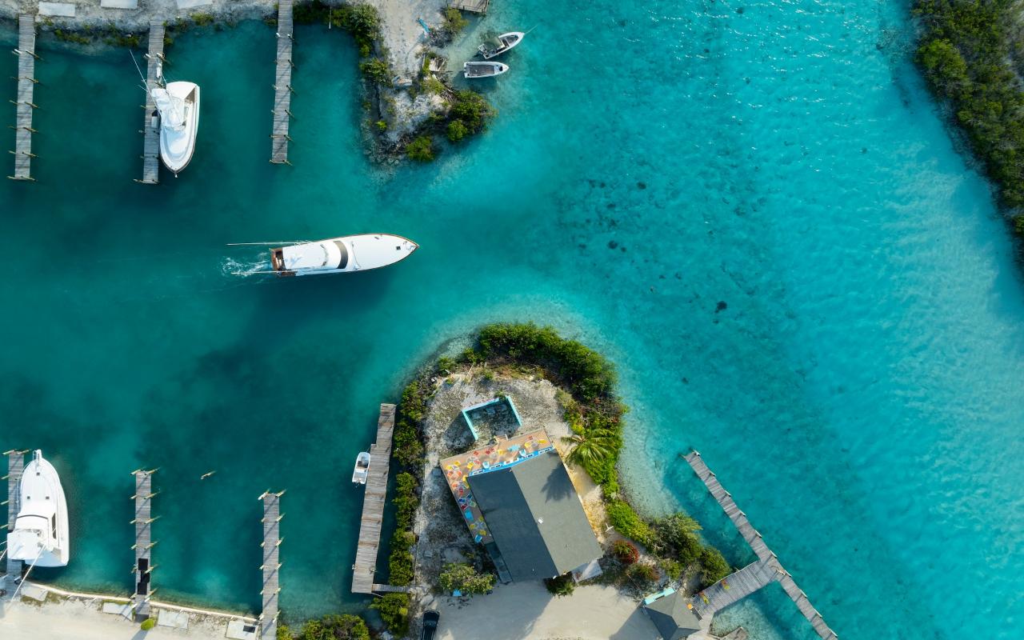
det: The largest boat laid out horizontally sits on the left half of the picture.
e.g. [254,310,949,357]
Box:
[233,233,418,280]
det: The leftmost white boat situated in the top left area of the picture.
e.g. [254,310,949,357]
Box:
[129,49,204,180]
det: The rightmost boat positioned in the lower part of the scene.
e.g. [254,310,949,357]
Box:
[352,450,370,487]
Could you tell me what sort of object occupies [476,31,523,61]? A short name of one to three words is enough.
boat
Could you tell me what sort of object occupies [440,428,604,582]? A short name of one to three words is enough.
house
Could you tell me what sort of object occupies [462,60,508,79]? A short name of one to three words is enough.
boat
